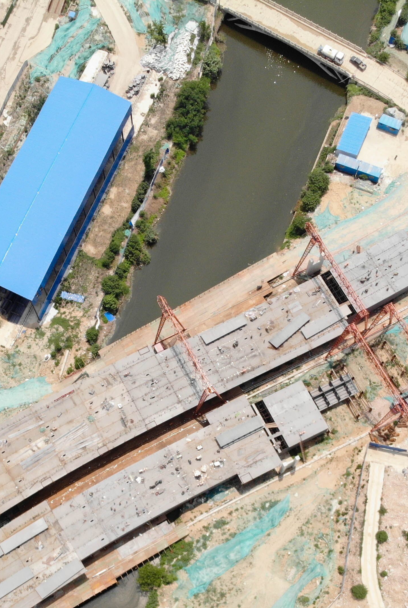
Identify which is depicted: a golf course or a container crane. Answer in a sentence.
Looking from above, you can make out a container crane.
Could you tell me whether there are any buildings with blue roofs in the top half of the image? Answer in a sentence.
Yes, the scene does show a building with a blue roof in the top half of the image.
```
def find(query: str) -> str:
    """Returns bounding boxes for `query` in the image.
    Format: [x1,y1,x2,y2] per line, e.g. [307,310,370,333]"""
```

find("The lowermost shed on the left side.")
[0,75,139,346]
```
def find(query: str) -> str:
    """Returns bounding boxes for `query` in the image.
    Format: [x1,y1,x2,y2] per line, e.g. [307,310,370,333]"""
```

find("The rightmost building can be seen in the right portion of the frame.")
[377,114,402,136]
